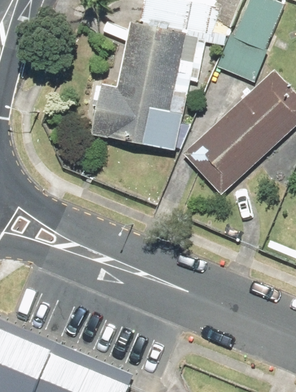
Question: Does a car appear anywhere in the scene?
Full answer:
Yes, the picture does show a car.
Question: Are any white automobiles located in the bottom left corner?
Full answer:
Yes, in the bottom left corner there is a white automobile.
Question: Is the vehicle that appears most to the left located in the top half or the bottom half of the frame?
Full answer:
The vehicle that appears most to the left is in the bottom half of the image.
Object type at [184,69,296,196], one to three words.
house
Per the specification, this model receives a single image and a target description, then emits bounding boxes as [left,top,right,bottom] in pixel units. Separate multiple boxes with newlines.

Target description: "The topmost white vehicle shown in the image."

[236,188,254,222]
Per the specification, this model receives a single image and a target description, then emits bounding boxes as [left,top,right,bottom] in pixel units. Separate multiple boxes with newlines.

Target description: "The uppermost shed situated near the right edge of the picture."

[219,0,286,84]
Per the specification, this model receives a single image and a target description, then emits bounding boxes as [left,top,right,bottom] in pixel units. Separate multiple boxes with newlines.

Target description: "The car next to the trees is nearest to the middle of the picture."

[177,254,210,274]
